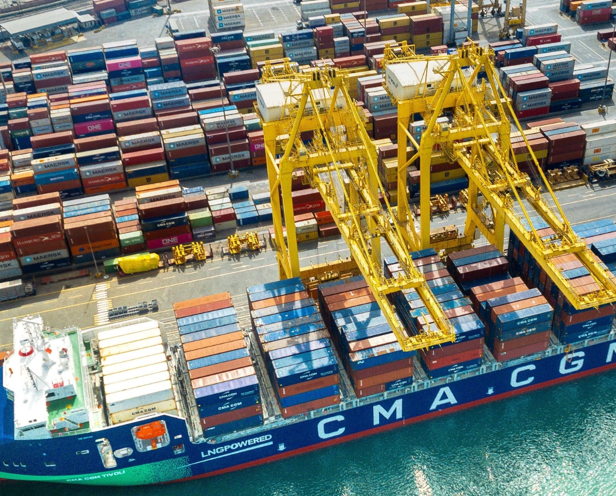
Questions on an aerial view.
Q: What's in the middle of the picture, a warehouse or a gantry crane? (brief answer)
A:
gantry crane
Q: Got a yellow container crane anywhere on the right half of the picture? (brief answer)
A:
Yes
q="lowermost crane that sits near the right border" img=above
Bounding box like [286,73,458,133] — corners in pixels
[381,28,616,319]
